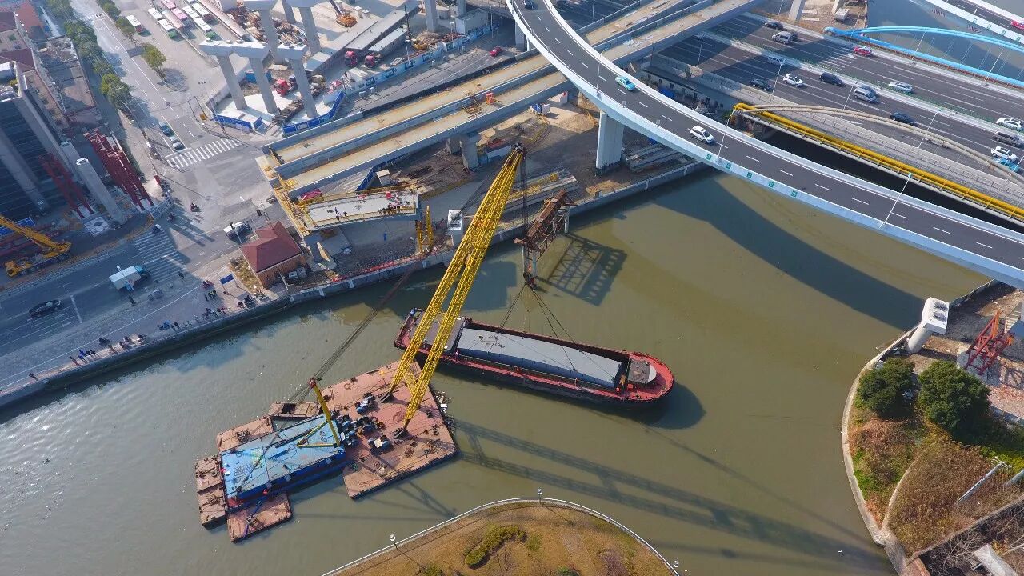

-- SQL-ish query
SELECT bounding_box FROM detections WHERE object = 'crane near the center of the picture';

[245,139,579,486]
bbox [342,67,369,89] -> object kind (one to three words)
building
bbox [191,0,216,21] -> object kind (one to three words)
bus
